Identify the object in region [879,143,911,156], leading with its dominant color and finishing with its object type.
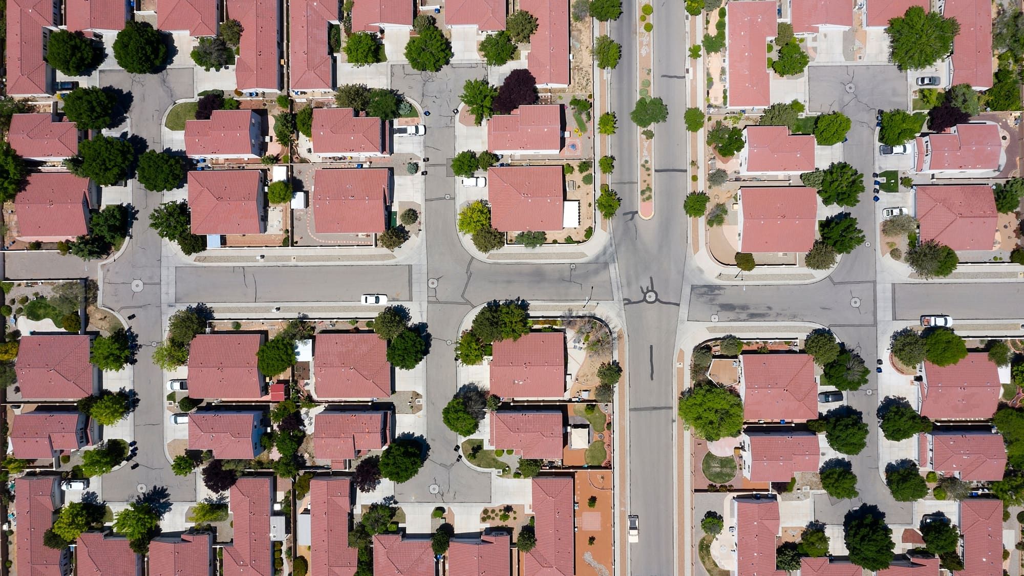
white vehicle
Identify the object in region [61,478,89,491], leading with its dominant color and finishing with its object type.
white vehicle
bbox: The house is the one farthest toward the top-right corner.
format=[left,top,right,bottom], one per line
[938,0,992,89]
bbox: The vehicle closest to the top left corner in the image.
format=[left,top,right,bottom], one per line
[53,79,81,92]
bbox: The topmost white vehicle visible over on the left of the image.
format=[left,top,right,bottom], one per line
[393,124,425,137]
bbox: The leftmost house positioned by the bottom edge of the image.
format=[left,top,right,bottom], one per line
[15,476,67,576]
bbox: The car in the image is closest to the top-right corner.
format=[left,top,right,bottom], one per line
[915,75,940,87]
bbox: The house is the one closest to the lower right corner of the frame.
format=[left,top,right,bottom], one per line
[947,498,1003,576]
